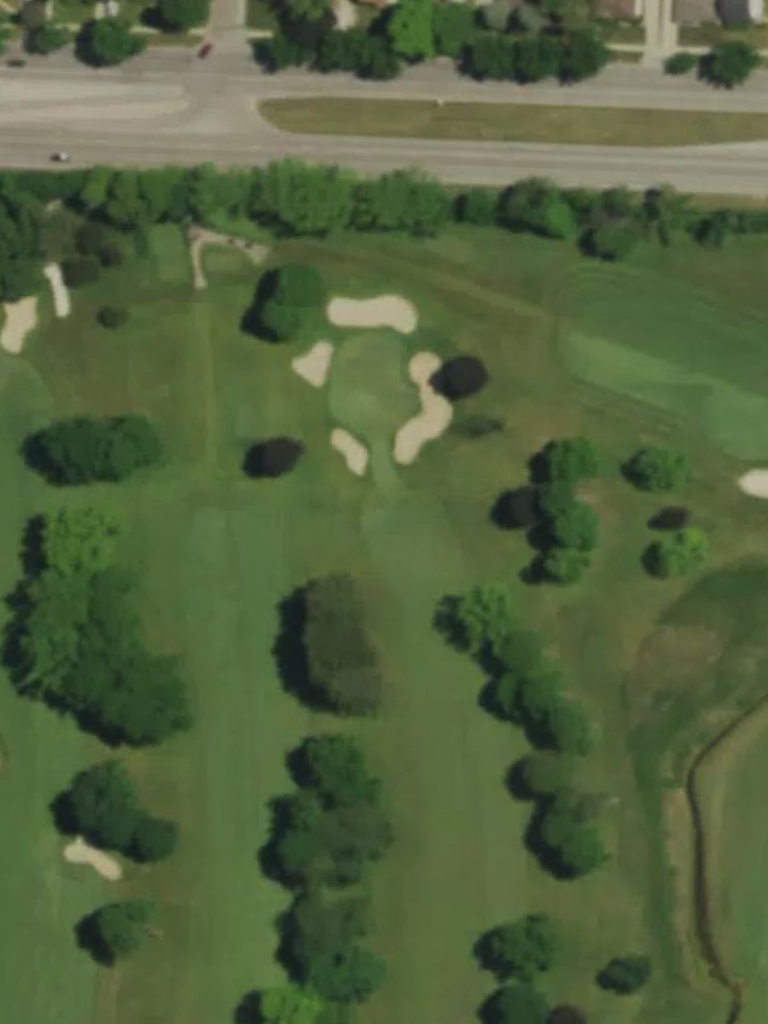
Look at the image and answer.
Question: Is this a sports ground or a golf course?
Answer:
golf course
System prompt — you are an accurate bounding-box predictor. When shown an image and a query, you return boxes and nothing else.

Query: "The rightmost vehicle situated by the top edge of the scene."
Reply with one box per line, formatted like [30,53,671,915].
[198,41,212,58]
